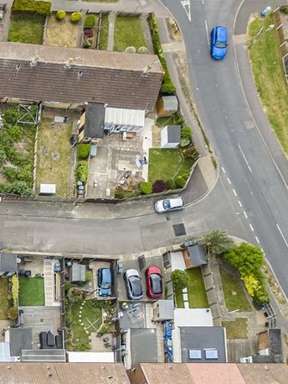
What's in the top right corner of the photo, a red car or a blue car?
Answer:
blue car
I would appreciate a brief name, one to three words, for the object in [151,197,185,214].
car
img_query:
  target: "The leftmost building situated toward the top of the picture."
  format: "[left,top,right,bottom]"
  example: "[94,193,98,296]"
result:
[0,39,53,107]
